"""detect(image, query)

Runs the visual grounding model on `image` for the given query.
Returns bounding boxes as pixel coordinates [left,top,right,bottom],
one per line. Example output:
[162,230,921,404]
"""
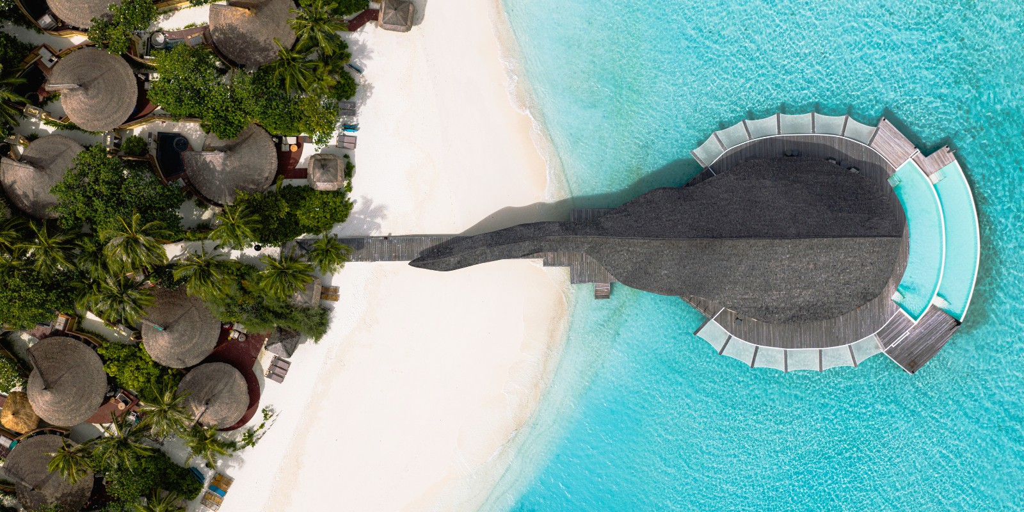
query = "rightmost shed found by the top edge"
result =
[377,0,416,31]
